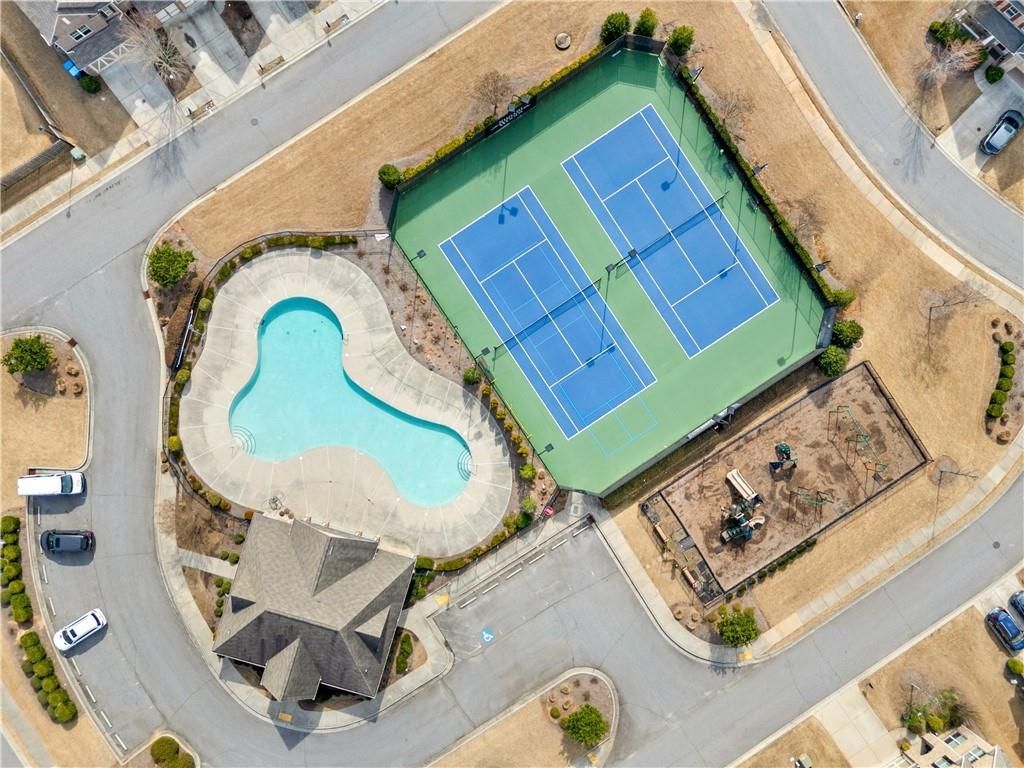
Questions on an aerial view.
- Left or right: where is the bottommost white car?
left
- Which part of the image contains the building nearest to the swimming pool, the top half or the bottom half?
bottom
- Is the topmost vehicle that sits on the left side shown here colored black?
No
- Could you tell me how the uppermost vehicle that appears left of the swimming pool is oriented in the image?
horizontally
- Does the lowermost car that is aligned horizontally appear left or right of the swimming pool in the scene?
to its left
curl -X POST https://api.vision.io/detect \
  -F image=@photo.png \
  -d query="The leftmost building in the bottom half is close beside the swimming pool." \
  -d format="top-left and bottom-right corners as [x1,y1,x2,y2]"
[213,512,418,702]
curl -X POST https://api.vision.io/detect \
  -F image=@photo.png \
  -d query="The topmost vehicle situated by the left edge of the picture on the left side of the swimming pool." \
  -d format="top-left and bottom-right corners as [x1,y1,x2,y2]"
[19,471,85,496]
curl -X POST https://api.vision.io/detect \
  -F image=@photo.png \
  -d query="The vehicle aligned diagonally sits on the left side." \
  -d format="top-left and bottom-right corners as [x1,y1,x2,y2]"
[52,607,108,650]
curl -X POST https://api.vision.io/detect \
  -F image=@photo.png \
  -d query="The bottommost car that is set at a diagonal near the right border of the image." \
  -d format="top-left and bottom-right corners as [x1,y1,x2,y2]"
[983,604,1024,654]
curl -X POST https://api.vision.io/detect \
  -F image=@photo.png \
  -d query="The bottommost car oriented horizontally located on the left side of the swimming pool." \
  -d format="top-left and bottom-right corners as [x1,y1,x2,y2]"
[41,528,94,552]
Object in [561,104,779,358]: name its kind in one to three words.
tennis court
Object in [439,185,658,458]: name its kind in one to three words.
tennis court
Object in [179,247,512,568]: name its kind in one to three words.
swimming pool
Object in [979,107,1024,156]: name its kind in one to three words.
car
